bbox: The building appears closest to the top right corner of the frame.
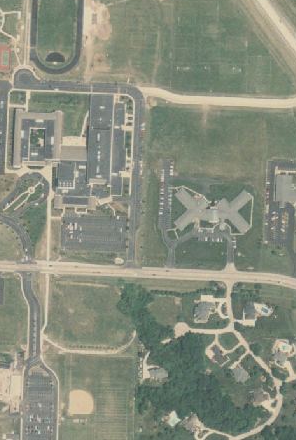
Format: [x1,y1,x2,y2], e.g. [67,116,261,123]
[276,176,296,201]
